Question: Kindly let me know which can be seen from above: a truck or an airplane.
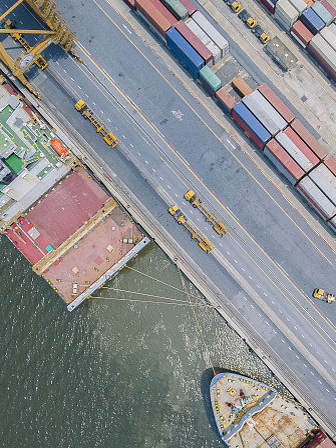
truck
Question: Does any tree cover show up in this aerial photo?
No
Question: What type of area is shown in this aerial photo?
port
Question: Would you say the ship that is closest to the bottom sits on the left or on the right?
right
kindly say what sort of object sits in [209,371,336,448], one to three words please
ship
